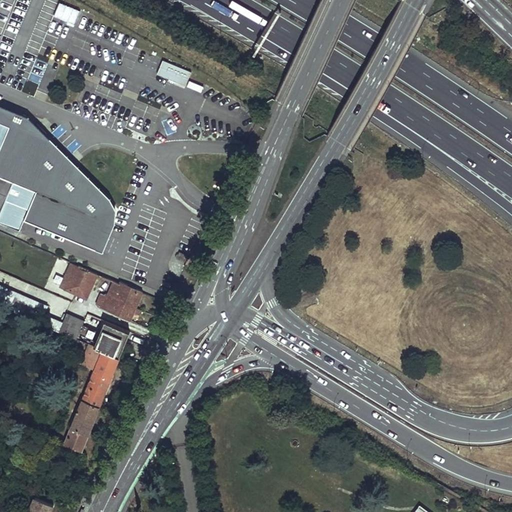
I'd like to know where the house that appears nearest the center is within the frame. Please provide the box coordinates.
[96,280,145,322]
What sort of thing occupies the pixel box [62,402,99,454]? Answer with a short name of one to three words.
house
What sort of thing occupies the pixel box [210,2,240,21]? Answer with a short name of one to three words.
vehicle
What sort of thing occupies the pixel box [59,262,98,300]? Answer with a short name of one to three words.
house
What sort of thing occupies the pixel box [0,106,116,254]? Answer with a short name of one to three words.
building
